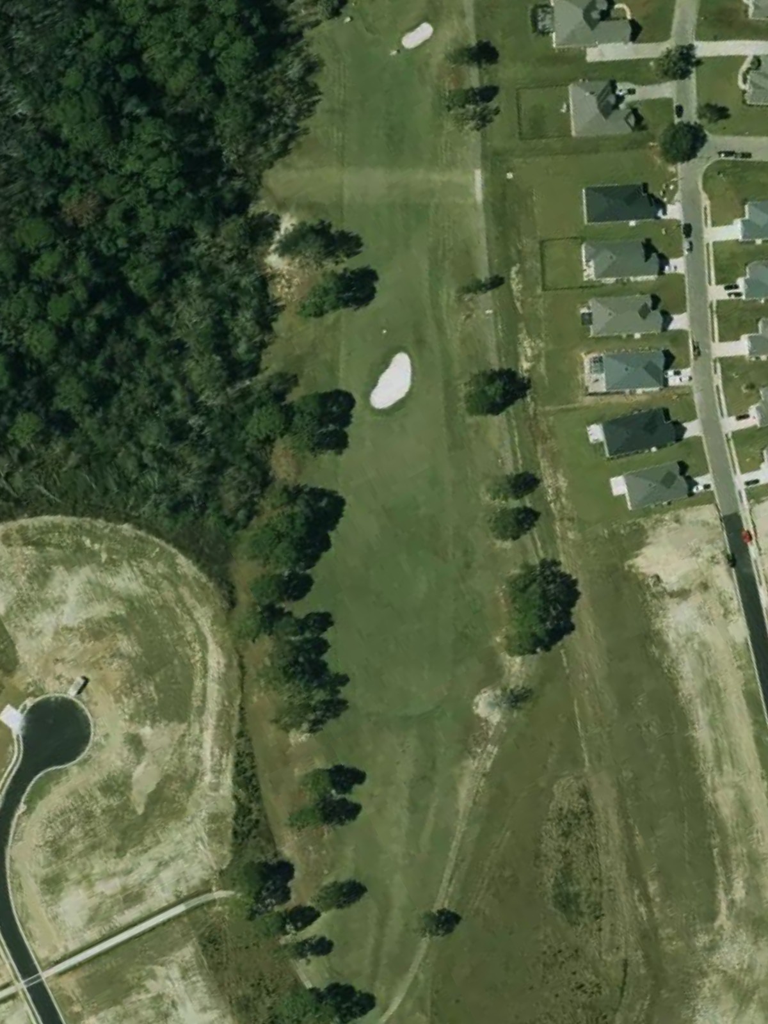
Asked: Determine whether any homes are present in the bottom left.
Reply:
No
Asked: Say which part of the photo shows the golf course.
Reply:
center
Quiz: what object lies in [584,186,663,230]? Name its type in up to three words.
house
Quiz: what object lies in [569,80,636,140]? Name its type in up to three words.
house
